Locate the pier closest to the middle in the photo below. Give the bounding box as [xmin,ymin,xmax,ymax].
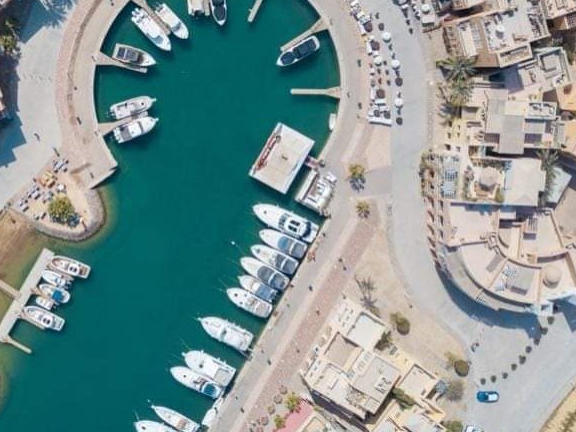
[294,169,332,214]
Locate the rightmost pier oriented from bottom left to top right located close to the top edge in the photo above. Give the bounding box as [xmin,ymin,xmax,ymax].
[280,17,328,51]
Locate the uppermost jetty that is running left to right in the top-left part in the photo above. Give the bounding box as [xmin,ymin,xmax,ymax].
[96,51,147,73]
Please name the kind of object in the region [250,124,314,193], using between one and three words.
building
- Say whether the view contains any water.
Yes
